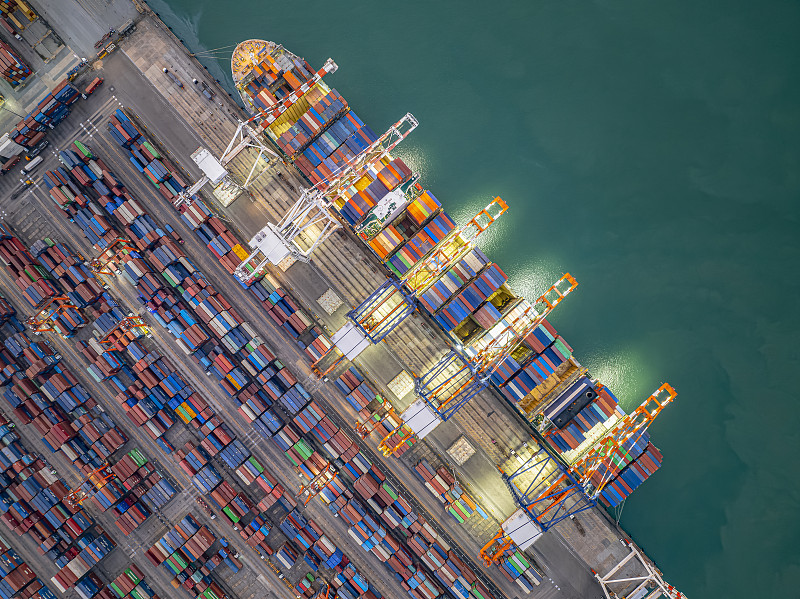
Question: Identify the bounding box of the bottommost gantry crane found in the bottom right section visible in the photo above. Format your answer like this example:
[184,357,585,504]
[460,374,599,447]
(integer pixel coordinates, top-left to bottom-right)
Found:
[591,540,698,599]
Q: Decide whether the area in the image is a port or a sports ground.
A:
port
